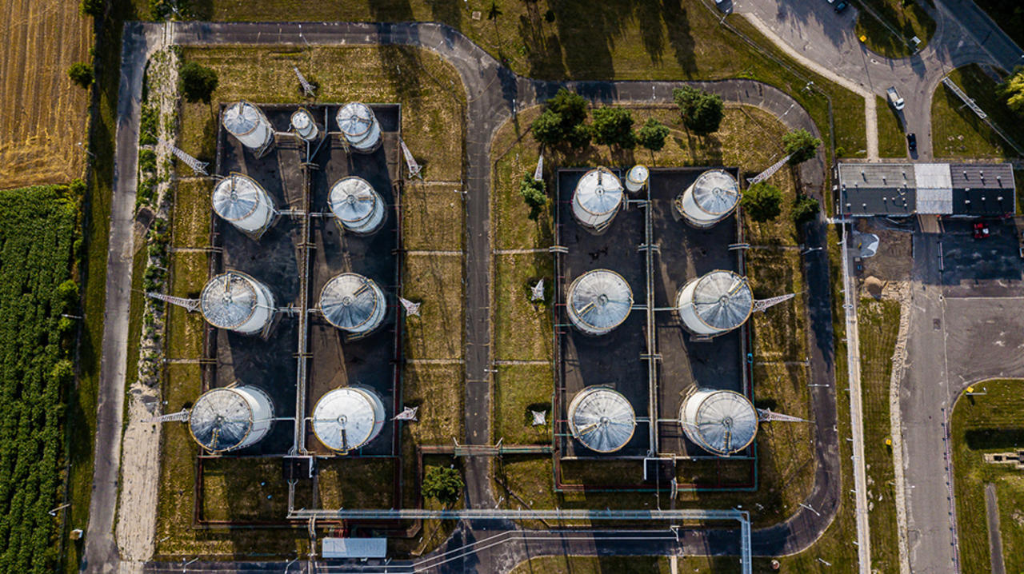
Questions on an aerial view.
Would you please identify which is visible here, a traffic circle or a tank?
tank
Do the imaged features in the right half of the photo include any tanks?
Yes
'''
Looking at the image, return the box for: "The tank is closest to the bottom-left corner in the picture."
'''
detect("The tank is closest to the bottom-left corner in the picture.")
[186,386,274,457]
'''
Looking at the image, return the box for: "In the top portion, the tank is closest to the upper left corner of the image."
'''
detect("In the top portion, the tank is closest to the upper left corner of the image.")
[221,96,277,154]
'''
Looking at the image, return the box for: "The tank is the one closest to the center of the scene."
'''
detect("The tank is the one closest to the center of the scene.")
[567,269,635,335]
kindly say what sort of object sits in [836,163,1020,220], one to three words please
building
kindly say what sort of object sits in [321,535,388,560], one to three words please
shed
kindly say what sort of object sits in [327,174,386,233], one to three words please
storage tank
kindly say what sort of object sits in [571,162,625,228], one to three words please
storage tank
